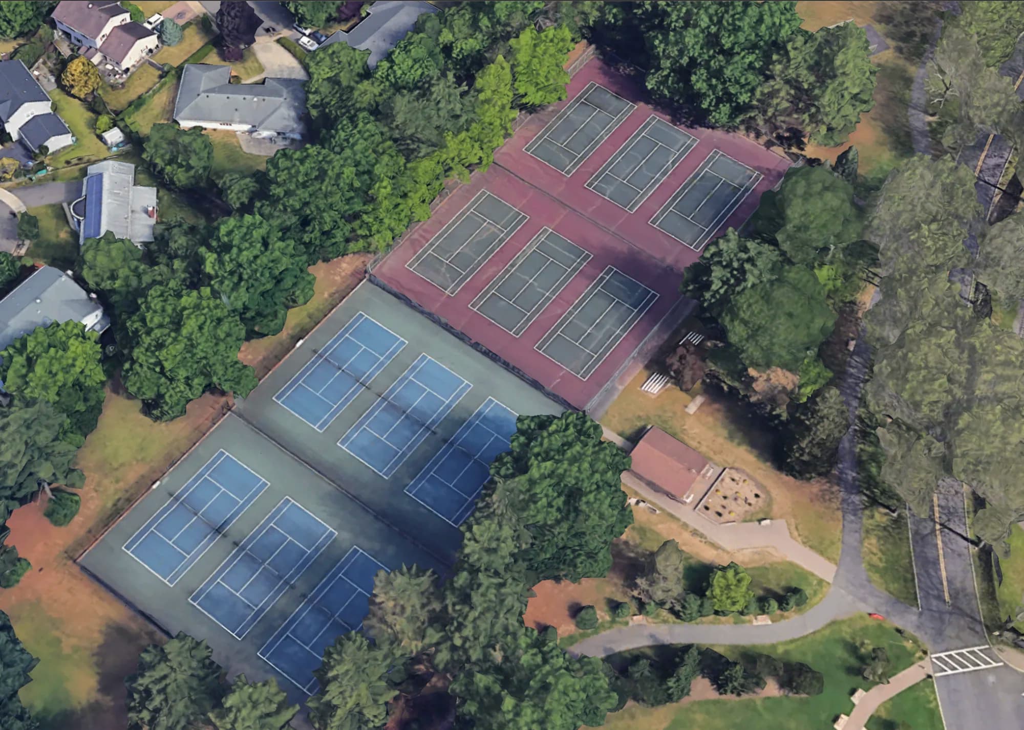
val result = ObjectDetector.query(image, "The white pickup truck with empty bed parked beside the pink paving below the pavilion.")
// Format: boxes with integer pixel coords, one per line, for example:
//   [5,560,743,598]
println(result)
[628,491,662,515]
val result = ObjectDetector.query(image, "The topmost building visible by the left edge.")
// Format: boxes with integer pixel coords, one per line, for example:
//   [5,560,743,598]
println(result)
[51,0,160,73]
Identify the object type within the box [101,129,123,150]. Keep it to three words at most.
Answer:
shed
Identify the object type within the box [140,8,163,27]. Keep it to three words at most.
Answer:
car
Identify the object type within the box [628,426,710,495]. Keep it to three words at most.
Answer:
building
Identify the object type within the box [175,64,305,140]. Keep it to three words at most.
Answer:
house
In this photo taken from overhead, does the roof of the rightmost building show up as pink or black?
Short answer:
pink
